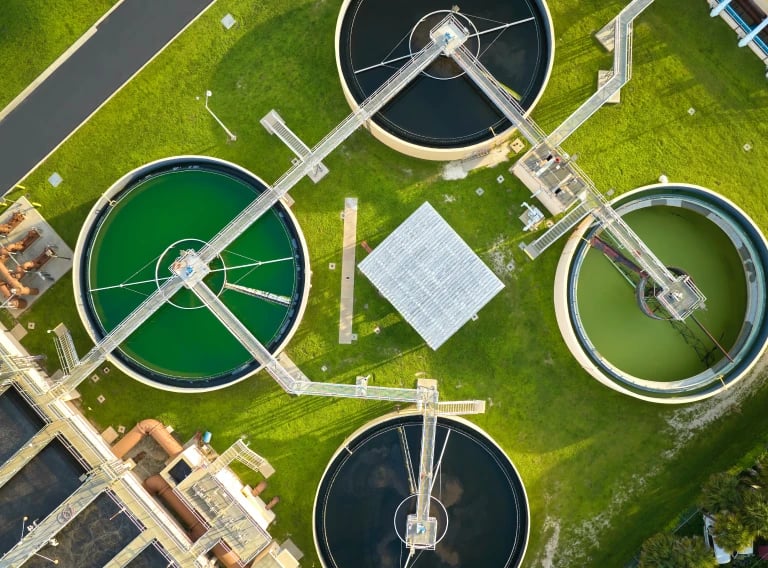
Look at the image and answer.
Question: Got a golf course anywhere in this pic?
No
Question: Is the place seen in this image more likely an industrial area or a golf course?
industrial area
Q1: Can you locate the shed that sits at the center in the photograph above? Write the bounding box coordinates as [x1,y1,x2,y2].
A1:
[358,202,504,349]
